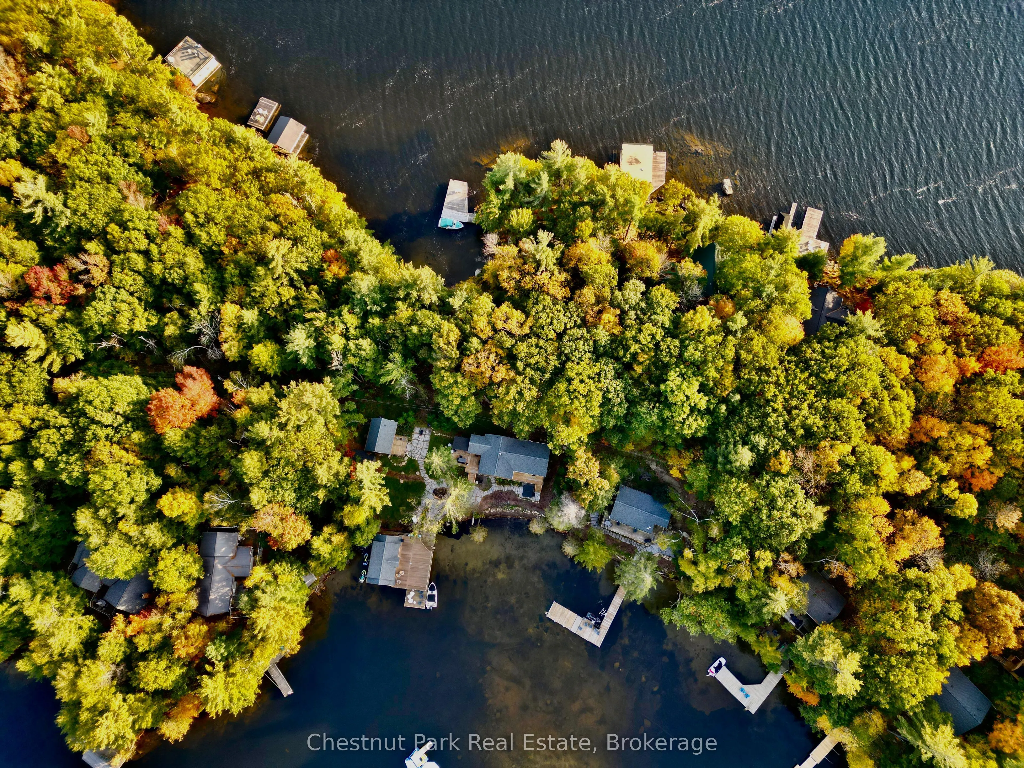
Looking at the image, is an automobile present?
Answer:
No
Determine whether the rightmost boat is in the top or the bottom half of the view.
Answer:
bottom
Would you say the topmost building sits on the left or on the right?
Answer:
left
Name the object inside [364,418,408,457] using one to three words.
house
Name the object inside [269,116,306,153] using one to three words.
building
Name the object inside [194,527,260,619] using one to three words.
house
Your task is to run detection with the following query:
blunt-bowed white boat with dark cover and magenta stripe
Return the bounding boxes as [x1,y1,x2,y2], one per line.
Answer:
[706,658,726,678]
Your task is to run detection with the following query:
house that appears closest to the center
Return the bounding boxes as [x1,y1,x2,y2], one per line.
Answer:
[451,434,551,492]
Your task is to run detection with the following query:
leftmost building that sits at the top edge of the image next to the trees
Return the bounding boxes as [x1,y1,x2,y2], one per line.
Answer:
[163,34,215,82]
